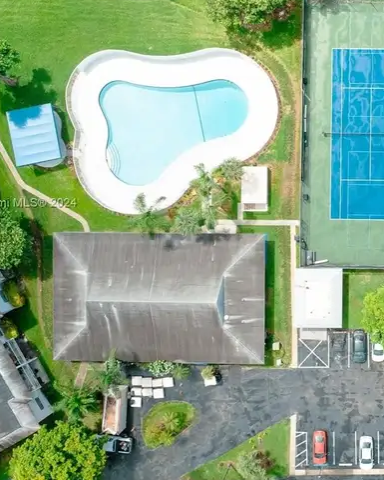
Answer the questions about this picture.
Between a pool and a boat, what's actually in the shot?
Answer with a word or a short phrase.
pool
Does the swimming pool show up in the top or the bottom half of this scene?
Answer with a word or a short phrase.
top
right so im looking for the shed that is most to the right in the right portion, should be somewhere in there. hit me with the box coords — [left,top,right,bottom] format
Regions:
[293,267,343,328]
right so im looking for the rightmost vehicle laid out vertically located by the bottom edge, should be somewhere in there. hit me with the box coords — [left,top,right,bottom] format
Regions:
[358,434,375,469]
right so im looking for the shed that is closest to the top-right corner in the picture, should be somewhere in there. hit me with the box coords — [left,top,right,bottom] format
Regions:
[240,167,269,211]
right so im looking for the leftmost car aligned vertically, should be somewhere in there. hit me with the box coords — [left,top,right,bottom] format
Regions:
[312,429,328,465]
